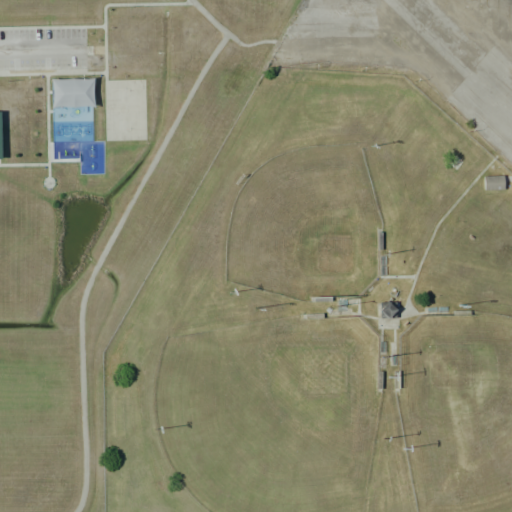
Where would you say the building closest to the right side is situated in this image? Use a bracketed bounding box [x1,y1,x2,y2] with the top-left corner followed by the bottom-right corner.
[485,176,506,190]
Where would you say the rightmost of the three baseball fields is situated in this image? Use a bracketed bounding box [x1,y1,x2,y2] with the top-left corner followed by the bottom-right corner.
[399,316,512,512]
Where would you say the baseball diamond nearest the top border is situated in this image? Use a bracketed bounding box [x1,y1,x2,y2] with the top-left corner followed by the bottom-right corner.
[226,146,382,301]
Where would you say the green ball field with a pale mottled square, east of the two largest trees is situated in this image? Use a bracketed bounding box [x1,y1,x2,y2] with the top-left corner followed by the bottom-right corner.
[157,319,381,512]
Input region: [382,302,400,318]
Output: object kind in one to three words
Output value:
building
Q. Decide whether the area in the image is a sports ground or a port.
sports ground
